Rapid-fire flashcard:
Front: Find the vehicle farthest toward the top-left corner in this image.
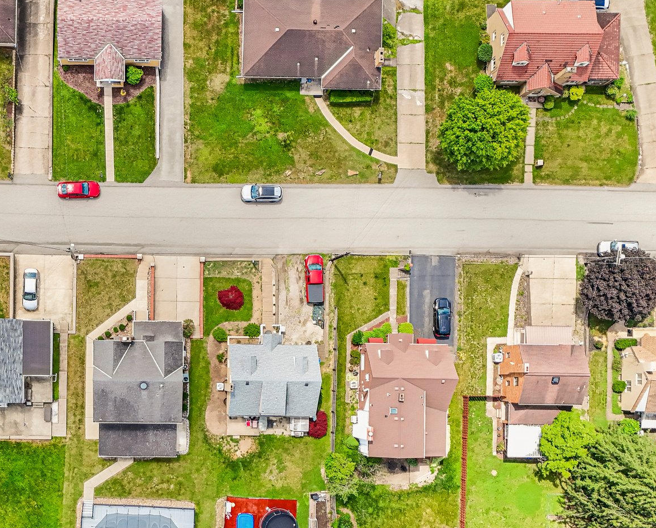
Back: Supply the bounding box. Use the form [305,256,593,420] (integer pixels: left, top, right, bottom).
[56,179,101,200]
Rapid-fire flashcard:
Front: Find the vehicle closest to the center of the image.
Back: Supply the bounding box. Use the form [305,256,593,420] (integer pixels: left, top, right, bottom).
[303,253,325,306]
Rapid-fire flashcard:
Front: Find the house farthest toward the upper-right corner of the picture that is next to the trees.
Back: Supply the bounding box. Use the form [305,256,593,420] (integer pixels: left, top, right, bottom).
[478,0,621,98]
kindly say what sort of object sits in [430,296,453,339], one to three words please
car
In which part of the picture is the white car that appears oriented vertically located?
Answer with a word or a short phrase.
left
